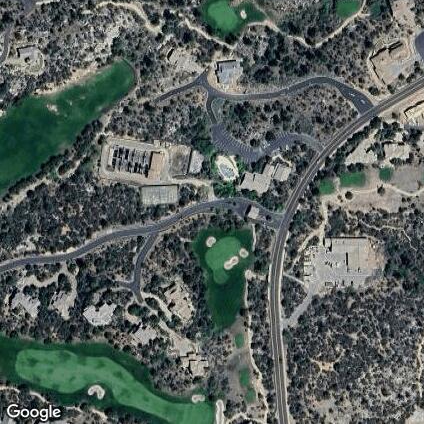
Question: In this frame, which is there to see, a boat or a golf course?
golf course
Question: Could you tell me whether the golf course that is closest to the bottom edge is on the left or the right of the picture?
left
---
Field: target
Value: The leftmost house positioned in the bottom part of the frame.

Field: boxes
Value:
[8,290,41,319]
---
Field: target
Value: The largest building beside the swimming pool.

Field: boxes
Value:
[240,162,292,192]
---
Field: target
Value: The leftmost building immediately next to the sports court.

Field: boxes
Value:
[148,150,163,179]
